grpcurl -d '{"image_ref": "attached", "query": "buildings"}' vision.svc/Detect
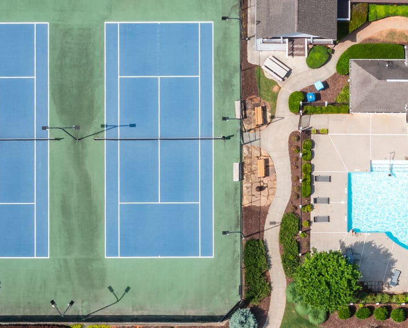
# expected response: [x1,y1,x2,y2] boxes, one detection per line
[256,0,352,57]
[349,47,408,130]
